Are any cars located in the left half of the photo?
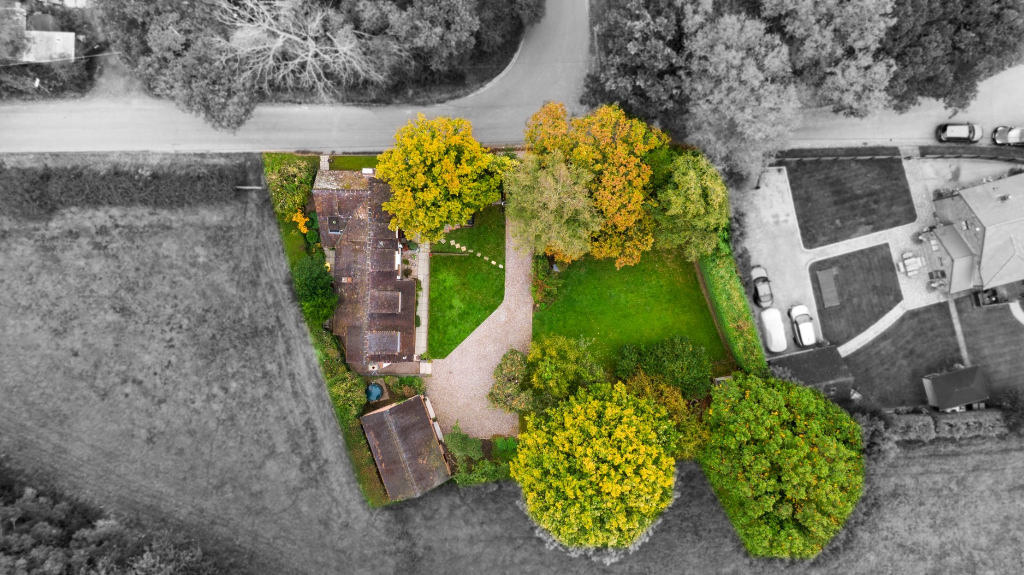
No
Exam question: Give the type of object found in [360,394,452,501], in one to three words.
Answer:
building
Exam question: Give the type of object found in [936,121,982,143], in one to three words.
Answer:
car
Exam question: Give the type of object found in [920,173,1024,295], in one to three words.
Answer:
house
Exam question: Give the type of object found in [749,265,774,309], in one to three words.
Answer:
car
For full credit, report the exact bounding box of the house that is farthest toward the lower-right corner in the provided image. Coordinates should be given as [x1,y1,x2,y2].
[919,364,990,412]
